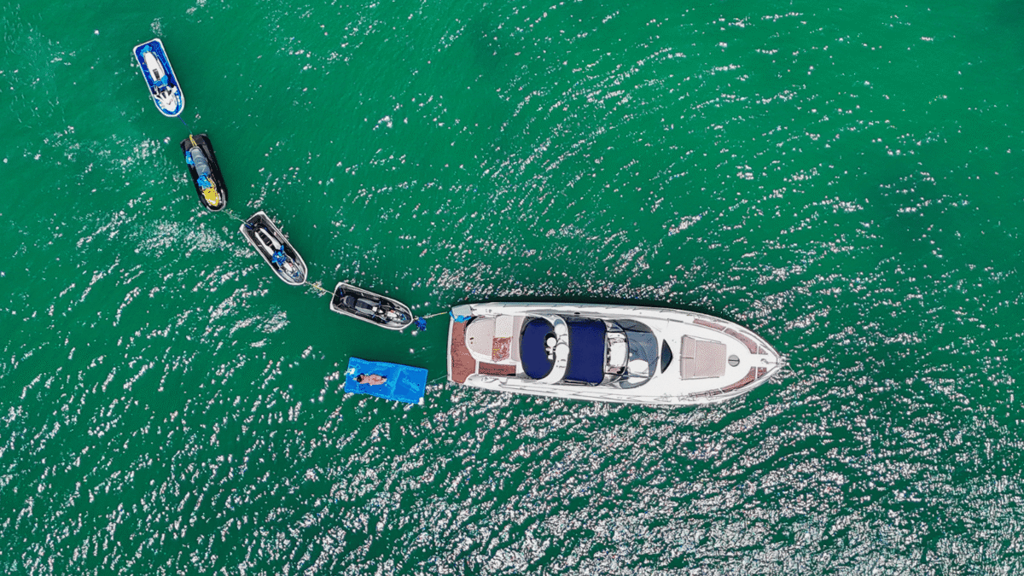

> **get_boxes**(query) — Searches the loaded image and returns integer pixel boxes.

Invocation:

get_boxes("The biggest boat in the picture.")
[448,303,790,404]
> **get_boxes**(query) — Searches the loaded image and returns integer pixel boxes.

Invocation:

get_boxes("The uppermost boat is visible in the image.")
[136,41,184,119]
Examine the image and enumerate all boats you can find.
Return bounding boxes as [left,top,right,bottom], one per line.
[448,303,790,404]
[182,135,228,213]
[243,212,309,286]
[136,41,184,119]
[332,282,414,329]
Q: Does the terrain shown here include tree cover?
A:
No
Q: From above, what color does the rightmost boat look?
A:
white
